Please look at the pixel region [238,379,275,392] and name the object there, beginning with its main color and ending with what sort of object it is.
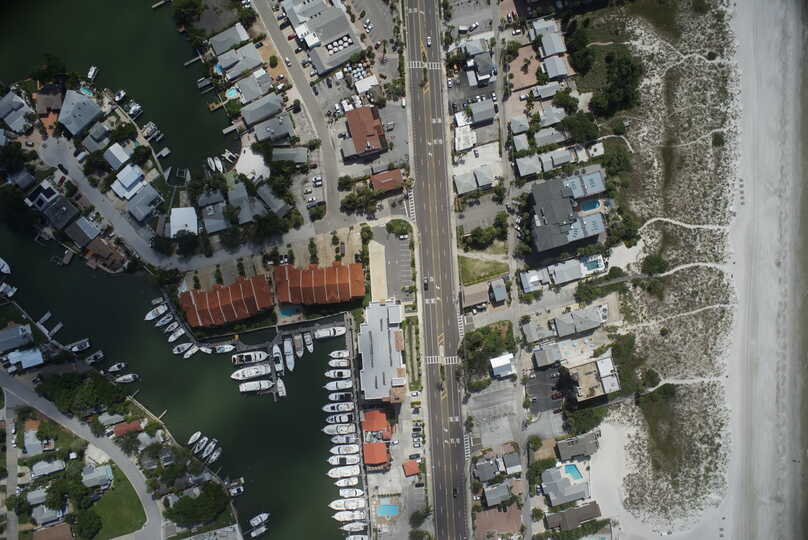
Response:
white boat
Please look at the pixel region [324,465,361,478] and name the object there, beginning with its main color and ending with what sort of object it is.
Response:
white boat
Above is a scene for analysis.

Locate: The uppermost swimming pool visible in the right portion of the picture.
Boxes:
[580,198,602,212]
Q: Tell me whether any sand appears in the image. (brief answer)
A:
Yes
